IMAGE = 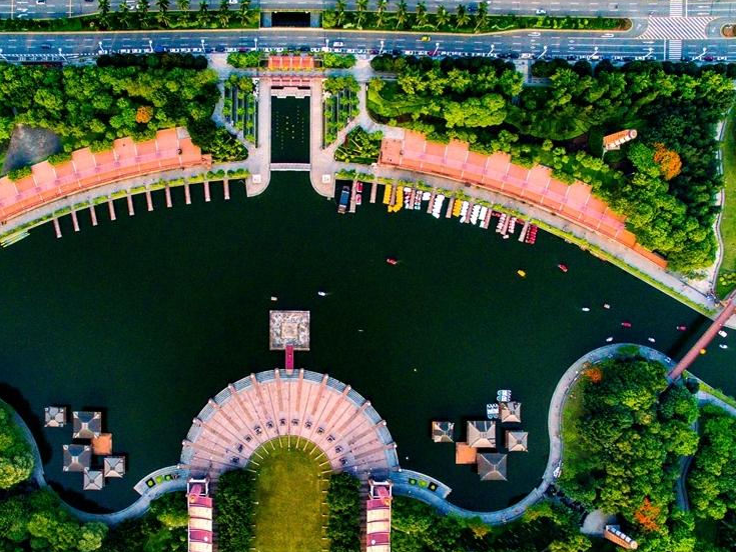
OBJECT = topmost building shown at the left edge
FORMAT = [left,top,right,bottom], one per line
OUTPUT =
[0,129,205,222]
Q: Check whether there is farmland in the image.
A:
No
